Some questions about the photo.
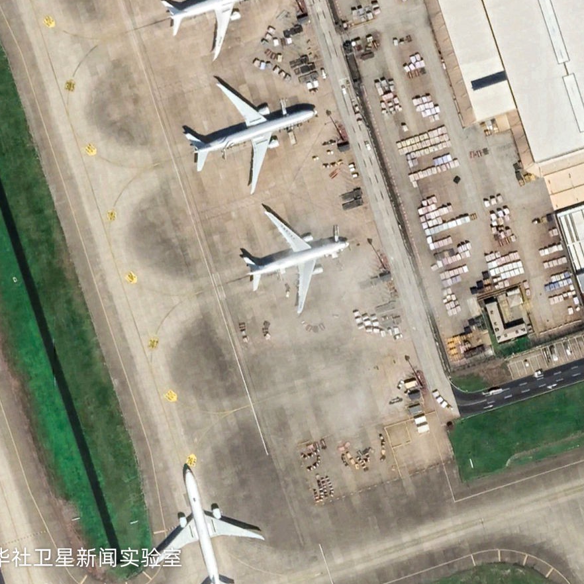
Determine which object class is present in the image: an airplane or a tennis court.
airplane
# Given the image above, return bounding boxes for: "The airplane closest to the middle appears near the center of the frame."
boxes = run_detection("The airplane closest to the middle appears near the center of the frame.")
[243,213,349,314]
